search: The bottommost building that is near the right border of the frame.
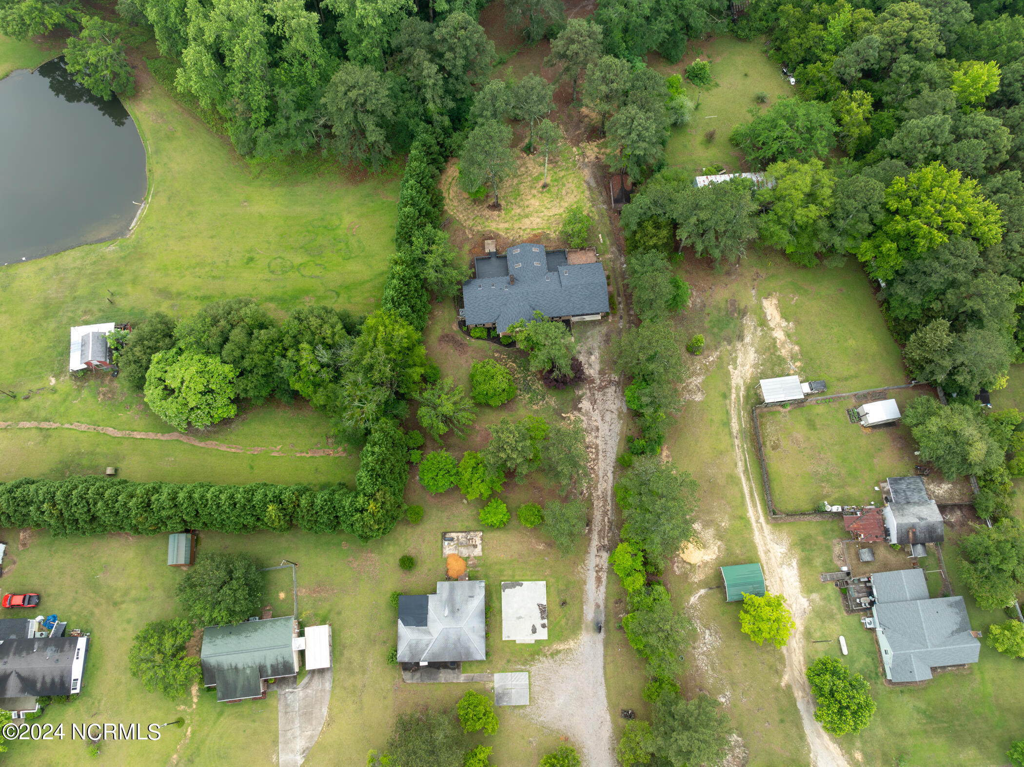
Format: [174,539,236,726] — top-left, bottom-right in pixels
[869,568,986,682]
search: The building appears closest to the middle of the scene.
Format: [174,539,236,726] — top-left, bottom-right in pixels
[463,243,609,339]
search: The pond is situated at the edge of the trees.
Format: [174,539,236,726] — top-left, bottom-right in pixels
[0,61,145,265]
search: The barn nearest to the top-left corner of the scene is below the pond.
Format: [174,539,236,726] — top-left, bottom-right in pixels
[70,323,119,373]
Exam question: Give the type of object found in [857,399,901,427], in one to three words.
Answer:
shed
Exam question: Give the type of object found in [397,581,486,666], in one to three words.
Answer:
house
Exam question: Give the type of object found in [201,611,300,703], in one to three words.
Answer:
building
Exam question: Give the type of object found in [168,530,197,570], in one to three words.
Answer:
shed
